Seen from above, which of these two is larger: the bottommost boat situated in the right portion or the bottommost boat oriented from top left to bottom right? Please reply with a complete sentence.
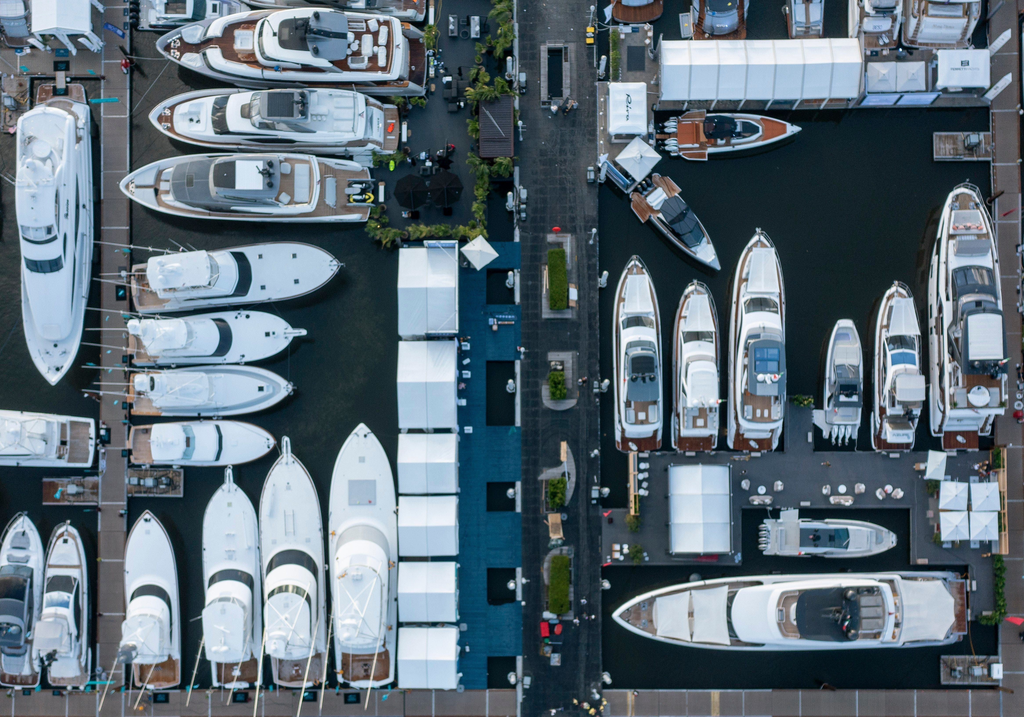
The bottommost boat oriented from top left to bottom right is smaller than the bottommost boat situated in the right portion.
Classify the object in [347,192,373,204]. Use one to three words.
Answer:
boat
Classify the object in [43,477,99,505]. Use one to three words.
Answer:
pier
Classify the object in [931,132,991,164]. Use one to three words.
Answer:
pier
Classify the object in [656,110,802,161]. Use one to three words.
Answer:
boat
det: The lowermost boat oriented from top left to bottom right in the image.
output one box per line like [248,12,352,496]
[630,174,721,271]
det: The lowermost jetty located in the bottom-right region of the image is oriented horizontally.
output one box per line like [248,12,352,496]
[603,689,999,716]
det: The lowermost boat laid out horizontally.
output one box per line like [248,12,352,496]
[613,572,968,650]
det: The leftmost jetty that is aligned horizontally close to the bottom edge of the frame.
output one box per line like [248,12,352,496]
[0,689,519,716]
